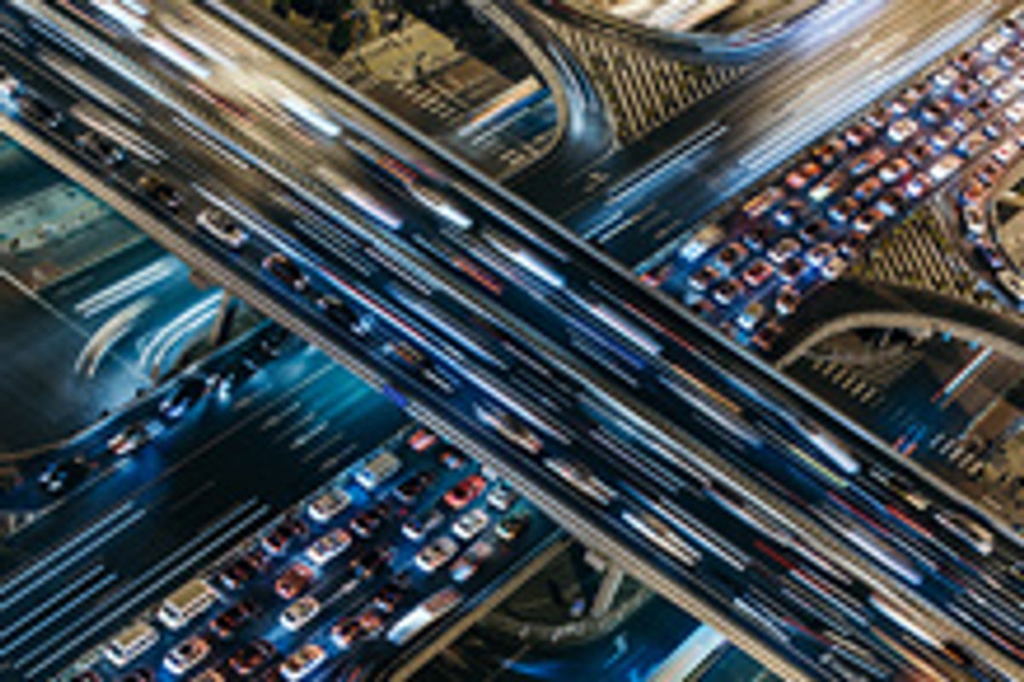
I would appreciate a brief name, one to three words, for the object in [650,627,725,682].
bus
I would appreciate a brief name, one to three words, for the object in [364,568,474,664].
bus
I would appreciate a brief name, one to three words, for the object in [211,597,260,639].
car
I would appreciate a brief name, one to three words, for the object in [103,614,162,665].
vehicle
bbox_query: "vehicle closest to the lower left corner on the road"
[67,657,113,682]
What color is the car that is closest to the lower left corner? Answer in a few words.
black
